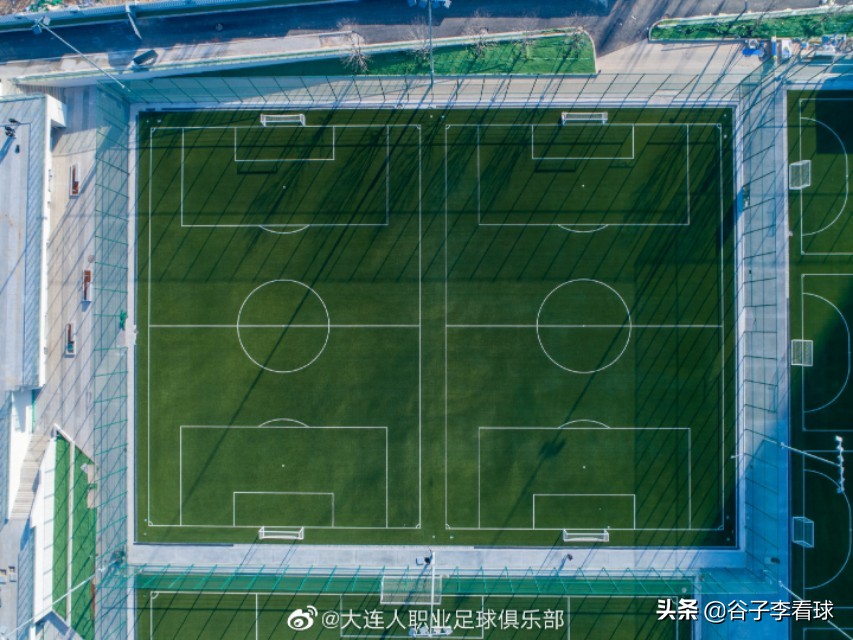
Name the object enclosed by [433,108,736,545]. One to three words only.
soccer field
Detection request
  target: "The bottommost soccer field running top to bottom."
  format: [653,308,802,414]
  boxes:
[790,441,853,618]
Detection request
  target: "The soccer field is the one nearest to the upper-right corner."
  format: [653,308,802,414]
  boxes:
[788,88,853,264]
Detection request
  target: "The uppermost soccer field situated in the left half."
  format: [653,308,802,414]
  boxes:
[135,110,433,542]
